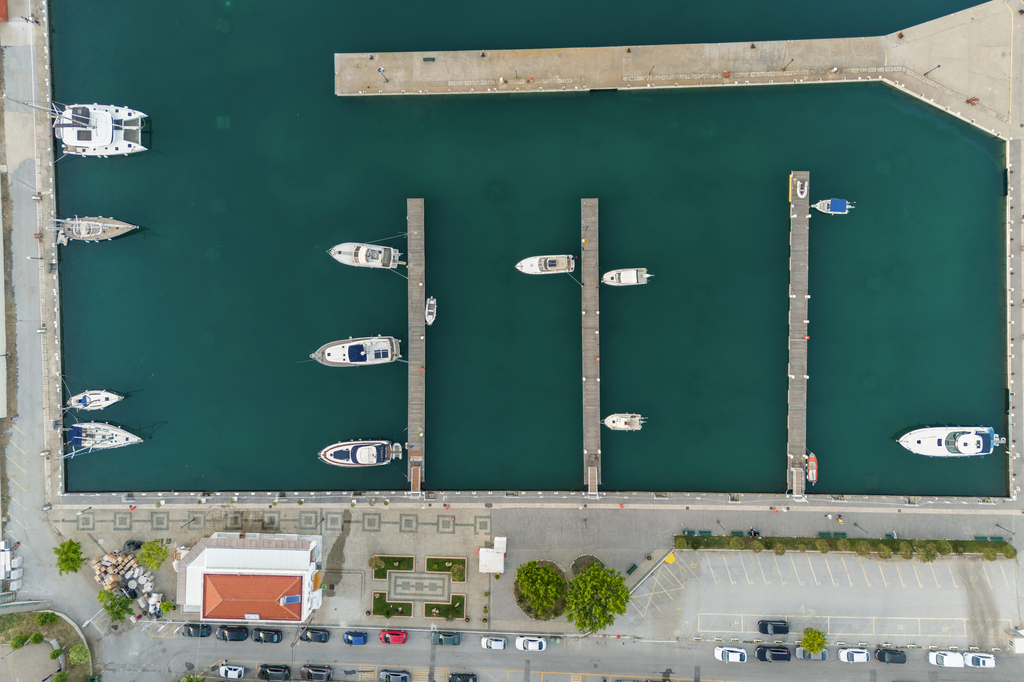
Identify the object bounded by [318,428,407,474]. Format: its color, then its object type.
white boat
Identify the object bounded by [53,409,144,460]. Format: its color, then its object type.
white boat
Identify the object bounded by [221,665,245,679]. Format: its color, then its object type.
white car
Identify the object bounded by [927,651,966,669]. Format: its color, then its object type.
white vehicle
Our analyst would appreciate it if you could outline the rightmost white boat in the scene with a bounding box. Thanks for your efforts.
[895,414,1008,459]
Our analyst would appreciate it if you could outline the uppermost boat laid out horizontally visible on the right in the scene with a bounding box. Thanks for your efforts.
[806,198,856,215]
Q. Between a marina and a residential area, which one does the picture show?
marina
